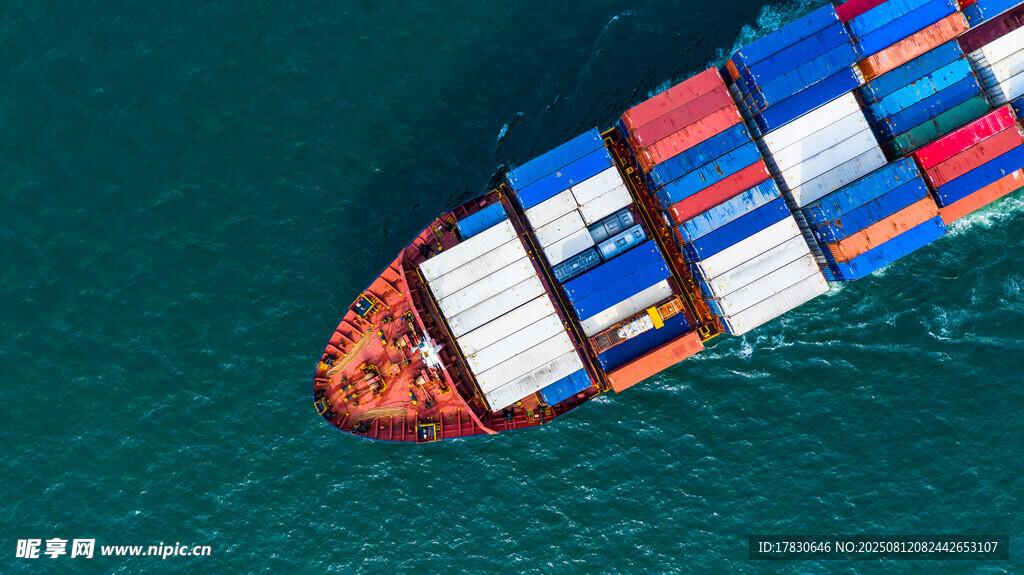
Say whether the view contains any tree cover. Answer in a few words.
No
